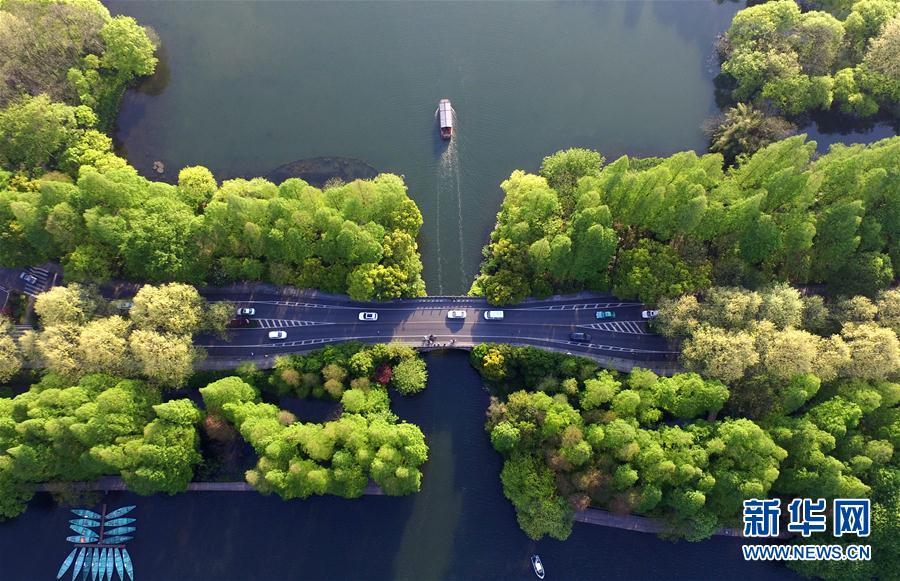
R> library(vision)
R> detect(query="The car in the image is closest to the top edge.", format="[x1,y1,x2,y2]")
[18,272,39,286]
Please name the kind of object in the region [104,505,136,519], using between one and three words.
boat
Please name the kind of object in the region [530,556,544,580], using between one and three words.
boat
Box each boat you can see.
[56,548,76,578]
[91,548,98,581]
[105,548,112,581]
[66,536,98,543]
[69,519,100,527]
[72,548,85,581]
[102,535,134,544]
[123,548,133,581]
[104,518,135,527]
[103,527,136,534]
[69,509,101,519]
[530,556,544,580]
[83,548,91,581]
[69,526,99,537]
[439,98,451,141]
[98,548,105,581]
[104,505,136,519]
[114,548,123,581]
